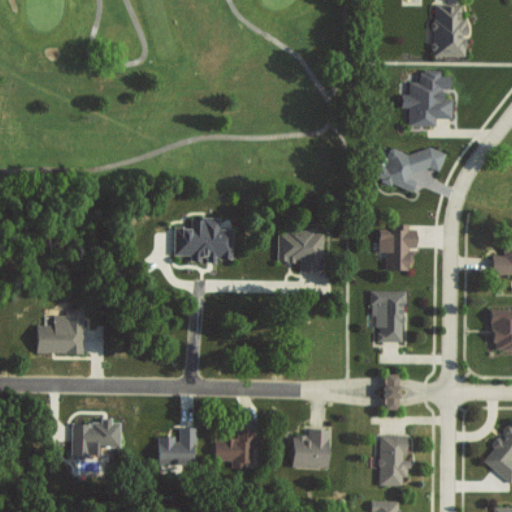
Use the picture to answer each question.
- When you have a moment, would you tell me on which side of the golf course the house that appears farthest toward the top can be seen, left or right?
right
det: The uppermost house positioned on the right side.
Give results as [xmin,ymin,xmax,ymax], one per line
[432,0,475,58]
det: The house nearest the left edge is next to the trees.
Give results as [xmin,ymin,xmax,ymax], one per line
[37,316,84,355]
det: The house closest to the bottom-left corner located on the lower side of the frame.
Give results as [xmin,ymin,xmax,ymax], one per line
[72,420,122,459]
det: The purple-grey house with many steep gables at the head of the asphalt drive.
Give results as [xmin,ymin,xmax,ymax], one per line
[175,218,234,264]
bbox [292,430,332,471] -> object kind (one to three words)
house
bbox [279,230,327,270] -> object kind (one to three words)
house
